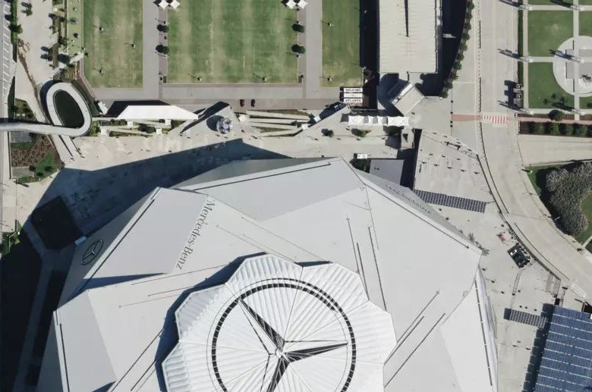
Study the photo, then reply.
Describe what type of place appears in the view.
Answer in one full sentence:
This image shows a sports ground.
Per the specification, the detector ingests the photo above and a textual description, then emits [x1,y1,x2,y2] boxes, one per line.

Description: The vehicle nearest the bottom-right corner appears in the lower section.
[509,243,533,266]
